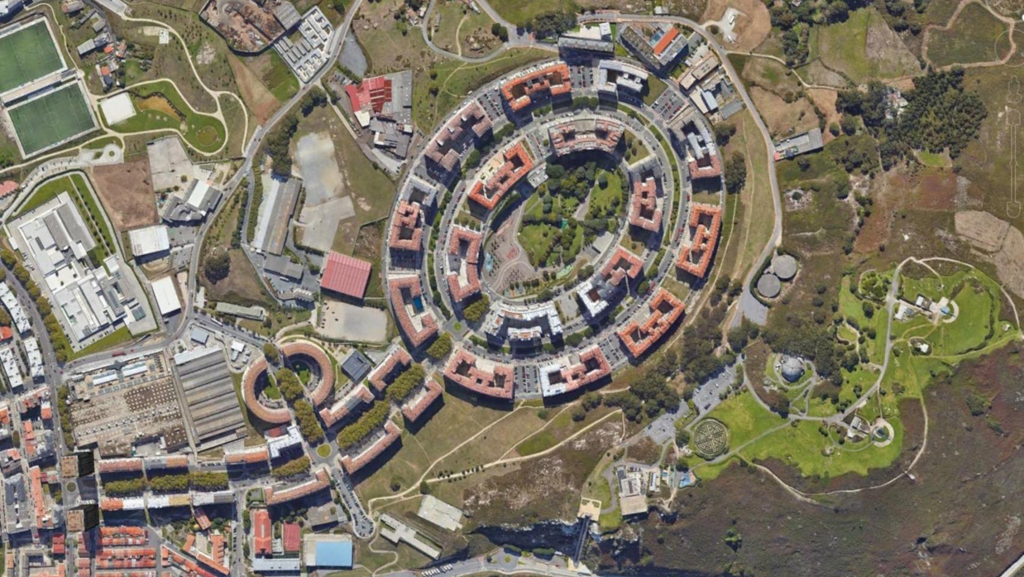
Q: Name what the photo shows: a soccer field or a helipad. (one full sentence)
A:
There is a soccer field in the scene.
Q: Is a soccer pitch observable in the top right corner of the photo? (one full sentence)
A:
No, no soccer pitch appears in the top right corner of the photo.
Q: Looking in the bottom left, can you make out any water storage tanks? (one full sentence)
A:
No, no water storage tank appears in the bottom left.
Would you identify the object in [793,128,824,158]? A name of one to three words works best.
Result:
barn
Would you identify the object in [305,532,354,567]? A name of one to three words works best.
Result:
building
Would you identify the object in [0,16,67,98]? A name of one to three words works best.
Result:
soccer field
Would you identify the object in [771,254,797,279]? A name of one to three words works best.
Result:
water tank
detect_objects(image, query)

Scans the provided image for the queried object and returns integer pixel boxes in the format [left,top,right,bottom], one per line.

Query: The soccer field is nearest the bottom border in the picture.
[2,79,99,159]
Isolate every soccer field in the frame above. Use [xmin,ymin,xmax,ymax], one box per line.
[0,16,67,98]
[2,79,99,159]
